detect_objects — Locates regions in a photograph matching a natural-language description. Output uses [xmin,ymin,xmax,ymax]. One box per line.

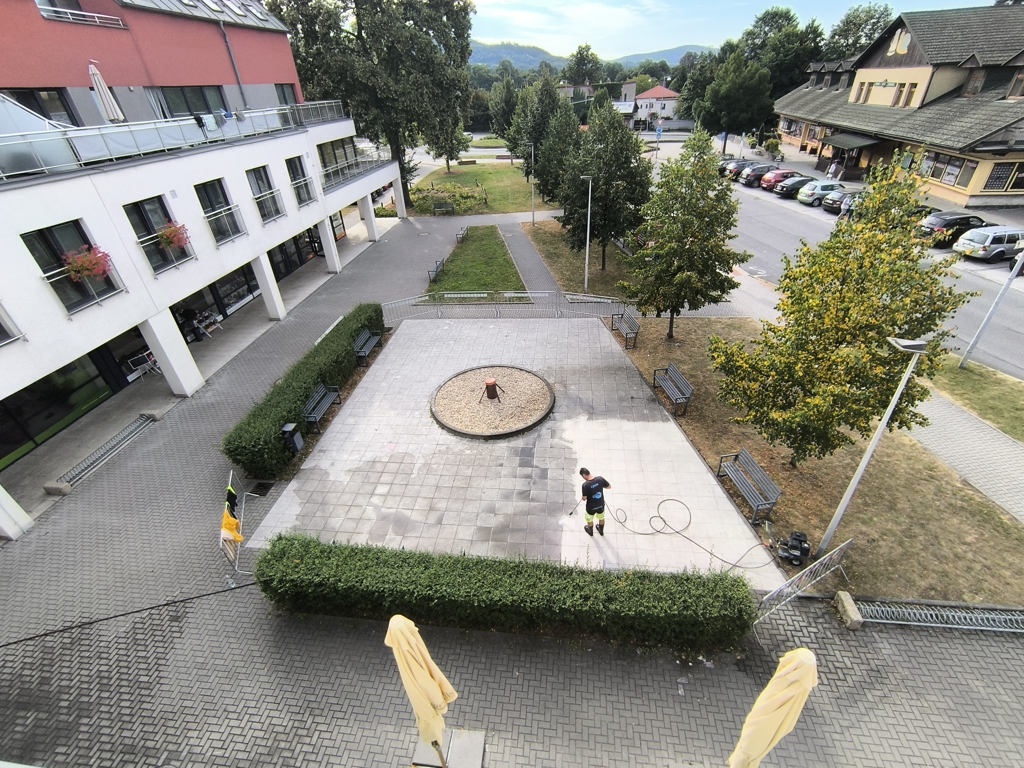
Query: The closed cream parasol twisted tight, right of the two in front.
[726,638,820,768]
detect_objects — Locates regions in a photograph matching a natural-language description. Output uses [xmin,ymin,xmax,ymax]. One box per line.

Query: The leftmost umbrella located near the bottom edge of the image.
[390,612,461,768]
